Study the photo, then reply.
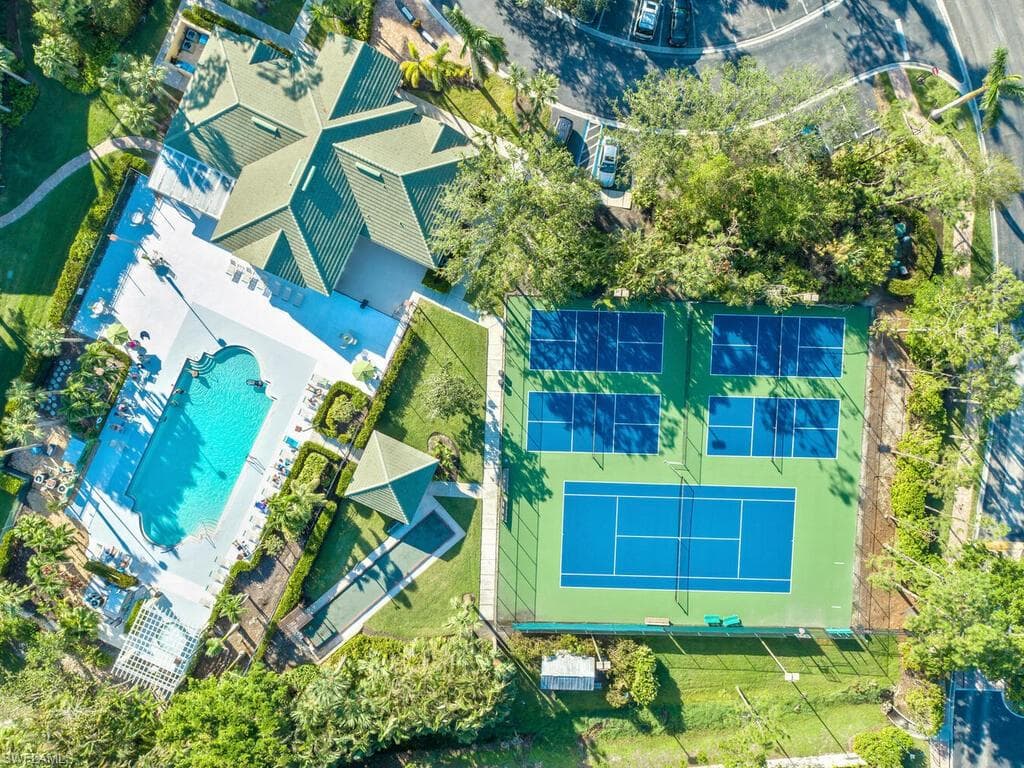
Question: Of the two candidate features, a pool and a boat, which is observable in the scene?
pool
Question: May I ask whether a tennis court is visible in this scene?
Yes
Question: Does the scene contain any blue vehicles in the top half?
Yes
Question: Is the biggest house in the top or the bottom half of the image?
top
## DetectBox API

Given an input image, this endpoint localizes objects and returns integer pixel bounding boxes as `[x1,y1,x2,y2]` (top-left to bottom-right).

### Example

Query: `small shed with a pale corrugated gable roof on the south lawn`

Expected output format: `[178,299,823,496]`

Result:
[541,650,595,690]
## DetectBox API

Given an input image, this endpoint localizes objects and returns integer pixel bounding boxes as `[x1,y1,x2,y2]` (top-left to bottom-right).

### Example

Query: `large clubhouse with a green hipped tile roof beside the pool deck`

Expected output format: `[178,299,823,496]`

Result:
[164,26,480,295]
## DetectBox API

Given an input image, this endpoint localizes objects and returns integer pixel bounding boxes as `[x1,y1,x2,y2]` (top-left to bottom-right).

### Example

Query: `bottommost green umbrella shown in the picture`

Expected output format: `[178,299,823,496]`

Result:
[353,358,378,383]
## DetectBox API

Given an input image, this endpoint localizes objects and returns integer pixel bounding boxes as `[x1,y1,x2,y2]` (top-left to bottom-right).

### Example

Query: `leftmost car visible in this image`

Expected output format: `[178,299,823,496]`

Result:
[552,105,577,153]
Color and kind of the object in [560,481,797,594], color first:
blue tennis court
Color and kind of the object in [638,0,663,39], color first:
blue car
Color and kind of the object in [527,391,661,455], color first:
blue sports court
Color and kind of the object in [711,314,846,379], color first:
blue sports court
